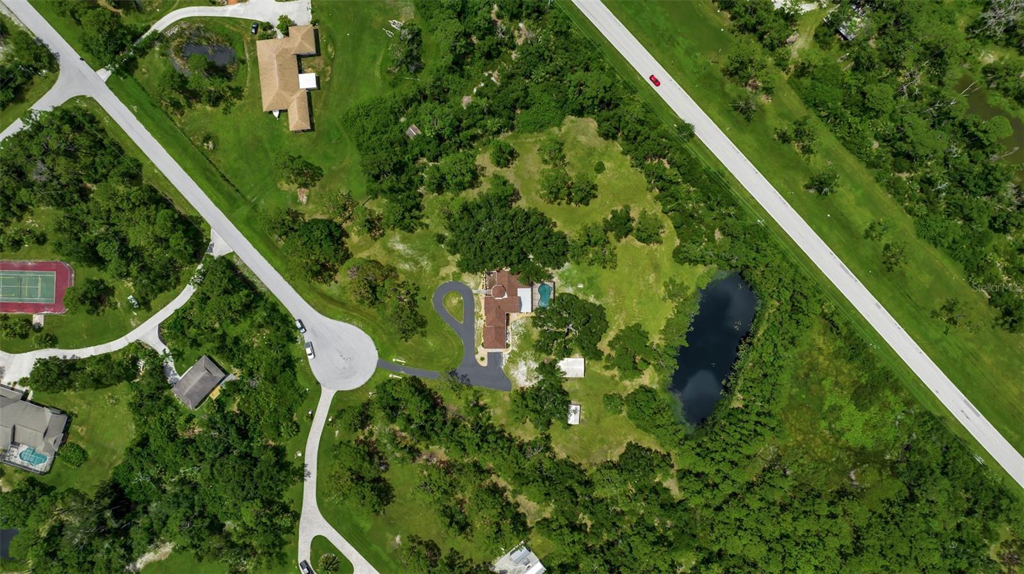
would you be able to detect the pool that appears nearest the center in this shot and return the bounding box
[532,282,554,315]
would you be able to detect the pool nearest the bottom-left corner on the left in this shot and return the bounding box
[0,440,55,476]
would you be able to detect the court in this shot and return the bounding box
[0,261,74,314]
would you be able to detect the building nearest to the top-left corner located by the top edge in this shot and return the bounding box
[256,24,318,131]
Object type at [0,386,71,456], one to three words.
house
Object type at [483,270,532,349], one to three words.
house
